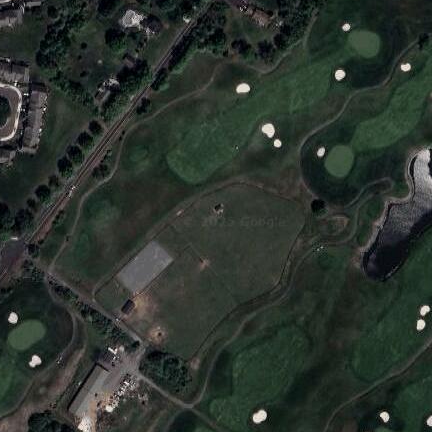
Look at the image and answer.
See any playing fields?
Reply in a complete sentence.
Yes, a playing field appears in the view.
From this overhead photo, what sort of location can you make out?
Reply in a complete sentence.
This looks like a golf course.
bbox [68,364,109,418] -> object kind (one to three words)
barn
